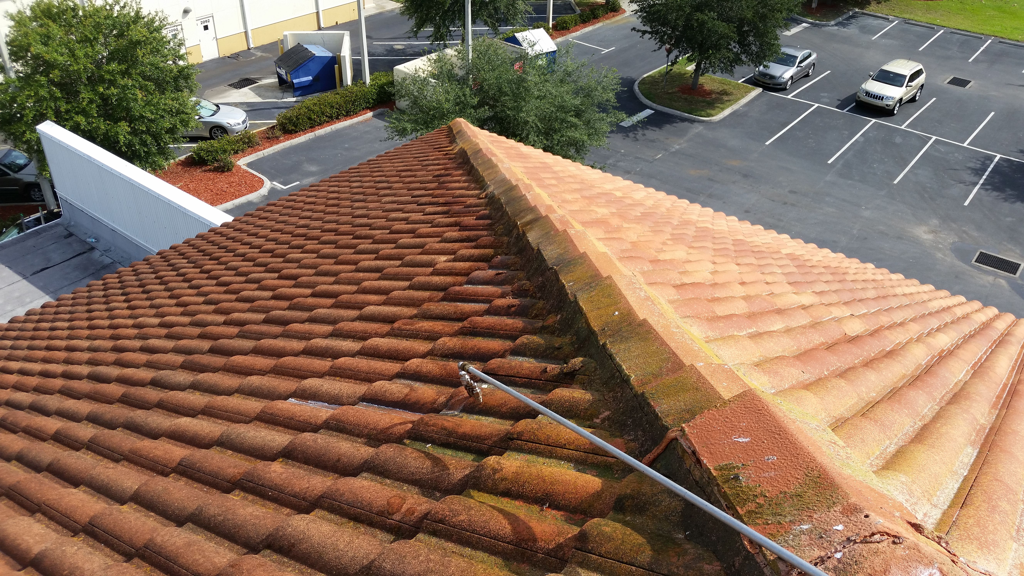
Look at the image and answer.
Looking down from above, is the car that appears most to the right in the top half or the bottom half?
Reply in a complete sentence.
Seen from above, the car that appears most to the right lies in the top half of the view.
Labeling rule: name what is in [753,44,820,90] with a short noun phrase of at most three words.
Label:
car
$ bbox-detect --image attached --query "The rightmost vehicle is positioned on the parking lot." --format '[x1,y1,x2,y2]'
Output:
[856,53,926,115]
